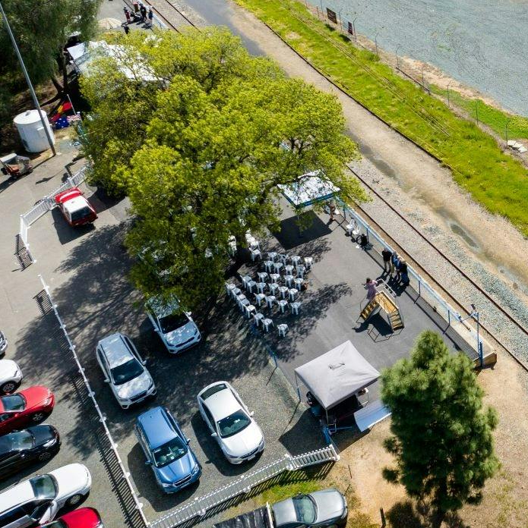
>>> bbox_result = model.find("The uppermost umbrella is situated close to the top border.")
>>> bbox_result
[87,7,120,34]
